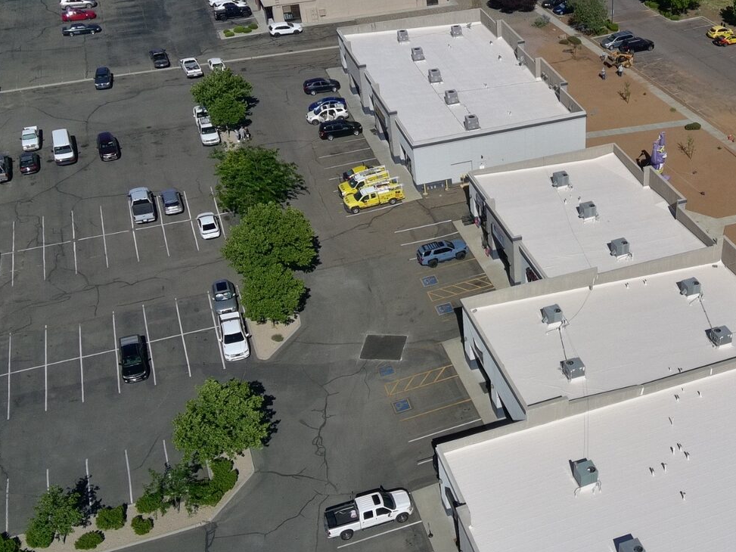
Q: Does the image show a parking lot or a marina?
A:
parking lot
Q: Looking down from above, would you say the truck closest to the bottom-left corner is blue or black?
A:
black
